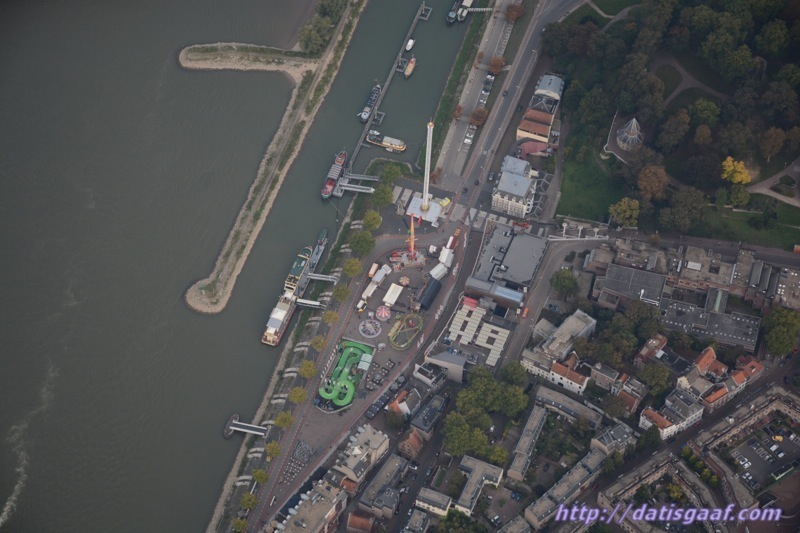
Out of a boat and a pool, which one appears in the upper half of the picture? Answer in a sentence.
There is a boat in the upper half of the picture.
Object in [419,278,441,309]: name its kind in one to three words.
tent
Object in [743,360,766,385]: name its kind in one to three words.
house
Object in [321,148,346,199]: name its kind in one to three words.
boat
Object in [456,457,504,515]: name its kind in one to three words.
building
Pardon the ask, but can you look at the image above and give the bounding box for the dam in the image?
[179,0,362,313]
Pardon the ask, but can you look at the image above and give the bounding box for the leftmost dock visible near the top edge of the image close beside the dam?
[349,0,427,165]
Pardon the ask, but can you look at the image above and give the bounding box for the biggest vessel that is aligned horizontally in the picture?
[366,133,407,149]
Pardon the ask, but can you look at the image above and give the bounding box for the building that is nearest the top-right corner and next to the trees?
[618,114,646,151]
